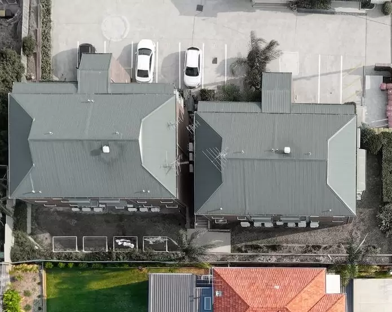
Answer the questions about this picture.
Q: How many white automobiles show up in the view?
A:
2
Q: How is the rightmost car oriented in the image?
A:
vertically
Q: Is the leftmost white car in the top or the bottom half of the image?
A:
top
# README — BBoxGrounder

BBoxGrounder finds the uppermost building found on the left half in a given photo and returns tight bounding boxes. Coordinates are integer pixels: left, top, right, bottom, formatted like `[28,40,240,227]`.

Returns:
[7,52,186,213]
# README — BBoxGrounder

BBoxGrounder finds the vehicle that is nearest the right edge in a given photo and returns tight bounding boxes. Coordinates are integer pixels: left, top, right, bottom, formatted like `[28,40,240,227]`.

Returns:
[182,47,203,89]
